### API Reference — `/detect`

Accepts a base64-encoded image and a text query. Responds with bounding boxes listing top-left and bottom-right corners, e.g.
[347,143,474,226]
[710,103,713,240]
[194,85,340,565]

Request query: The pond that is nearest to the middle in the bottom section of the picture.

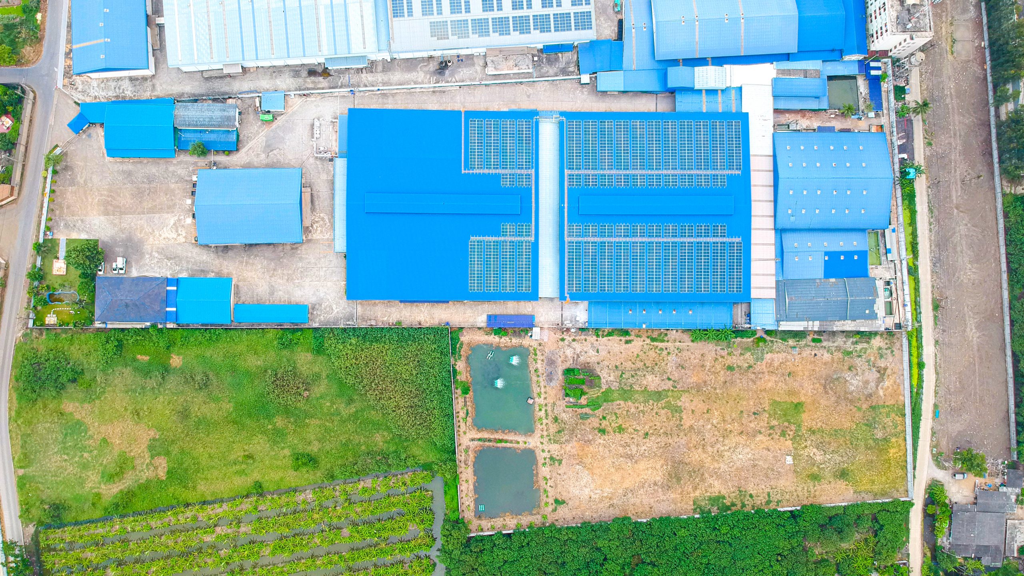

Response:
[469,344,534,433]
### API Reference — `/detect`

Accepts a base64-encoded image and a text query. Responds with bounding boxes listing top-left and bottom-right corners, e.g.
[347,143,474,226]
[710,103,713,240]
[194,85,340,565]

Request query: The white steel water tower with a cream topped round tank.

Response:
[895,53,925,77]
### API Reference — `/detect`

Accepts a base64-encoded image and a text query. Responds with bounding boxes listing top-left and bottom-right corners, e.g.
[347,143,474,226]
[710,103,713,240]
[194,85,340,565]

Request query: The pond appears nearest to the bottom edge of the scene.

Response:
[473,447,539,517]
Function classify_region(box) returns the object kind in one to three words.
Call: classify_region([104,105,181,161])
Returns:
building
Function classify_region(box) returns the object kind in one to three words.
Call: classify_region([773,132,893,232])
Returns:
shed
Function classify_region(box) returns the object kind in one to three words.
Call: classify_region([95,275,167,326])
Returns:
building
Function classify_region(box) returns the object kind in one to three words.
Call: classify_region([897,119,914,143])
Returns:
shed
